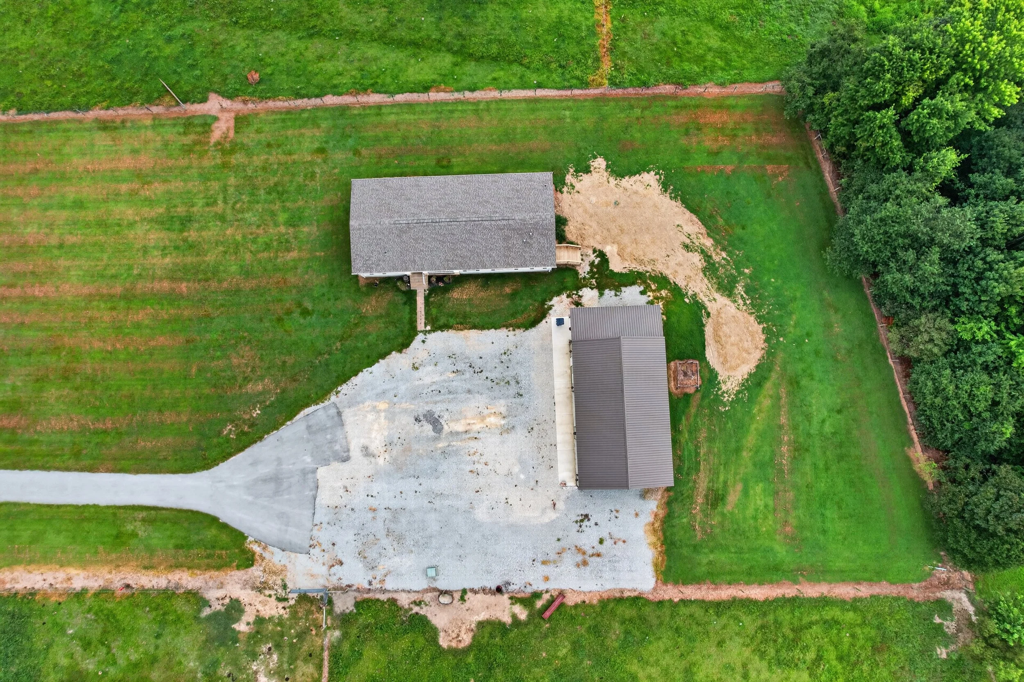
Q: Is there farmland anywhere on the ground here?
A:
Yes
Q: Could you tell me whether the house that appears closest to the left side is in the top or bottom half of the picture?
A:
top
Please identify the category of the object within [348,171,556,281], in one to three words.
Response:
house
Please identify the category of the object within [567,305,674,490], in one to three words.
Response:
barn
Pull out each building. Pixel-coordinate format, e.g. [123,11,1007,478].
[567,305,674,490]
[348,171,556,281]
